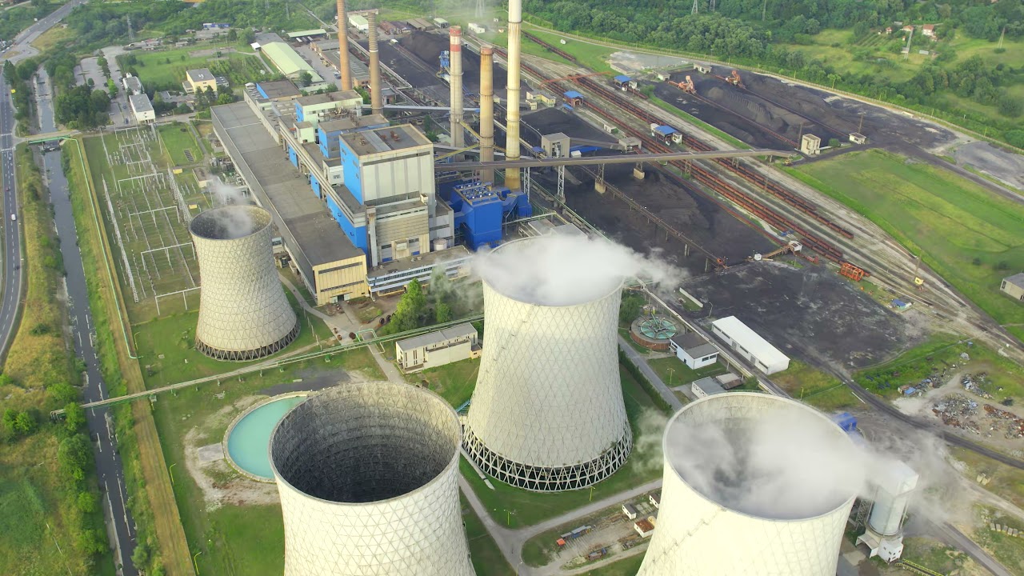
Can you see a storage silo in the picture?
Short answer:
Yes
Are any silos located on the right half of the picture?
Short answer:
Yes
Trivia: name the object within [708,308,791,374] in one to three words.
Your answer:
shed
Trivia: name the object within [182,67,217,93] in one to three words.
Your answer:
building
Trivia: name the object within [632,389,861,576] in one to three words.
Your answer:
cooling tower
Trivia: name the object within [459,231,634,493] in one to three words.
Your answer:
cooling tower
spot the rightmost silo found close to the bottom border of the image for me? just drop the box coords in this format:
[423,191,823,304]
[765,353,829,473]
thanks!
[847,445,932,559]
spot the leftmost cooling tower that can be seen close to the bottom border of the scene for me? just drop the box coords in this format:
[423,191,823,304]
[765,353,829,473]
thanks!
[266,377,478,576]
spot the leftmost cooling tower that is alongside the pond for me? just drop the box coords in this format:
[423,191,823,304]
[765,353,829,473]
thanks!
[188,201,304,364]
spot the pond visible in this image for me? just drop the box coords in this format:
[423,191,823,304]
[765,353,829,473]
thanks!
[224,389,320,475]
